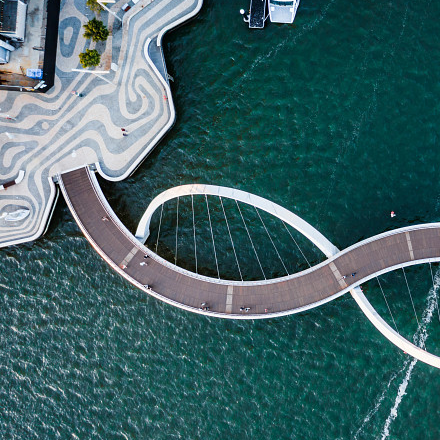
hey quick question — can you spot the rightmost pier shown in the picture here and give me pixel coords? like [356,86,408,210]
[250,0,266,29]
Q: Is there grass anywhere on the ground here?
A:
No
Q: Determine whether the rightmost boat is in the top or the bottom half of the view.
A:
top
